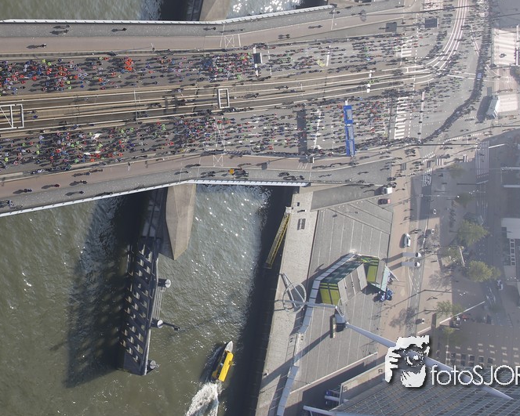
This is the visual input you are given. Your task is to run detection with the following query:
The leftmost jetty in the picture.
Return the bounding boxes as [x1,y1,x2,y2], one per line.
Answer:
[109,220,181,377]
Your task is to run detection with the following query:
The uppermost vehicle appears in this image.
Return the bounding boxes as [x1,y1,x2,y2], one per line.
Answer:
[488,91,507,124]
